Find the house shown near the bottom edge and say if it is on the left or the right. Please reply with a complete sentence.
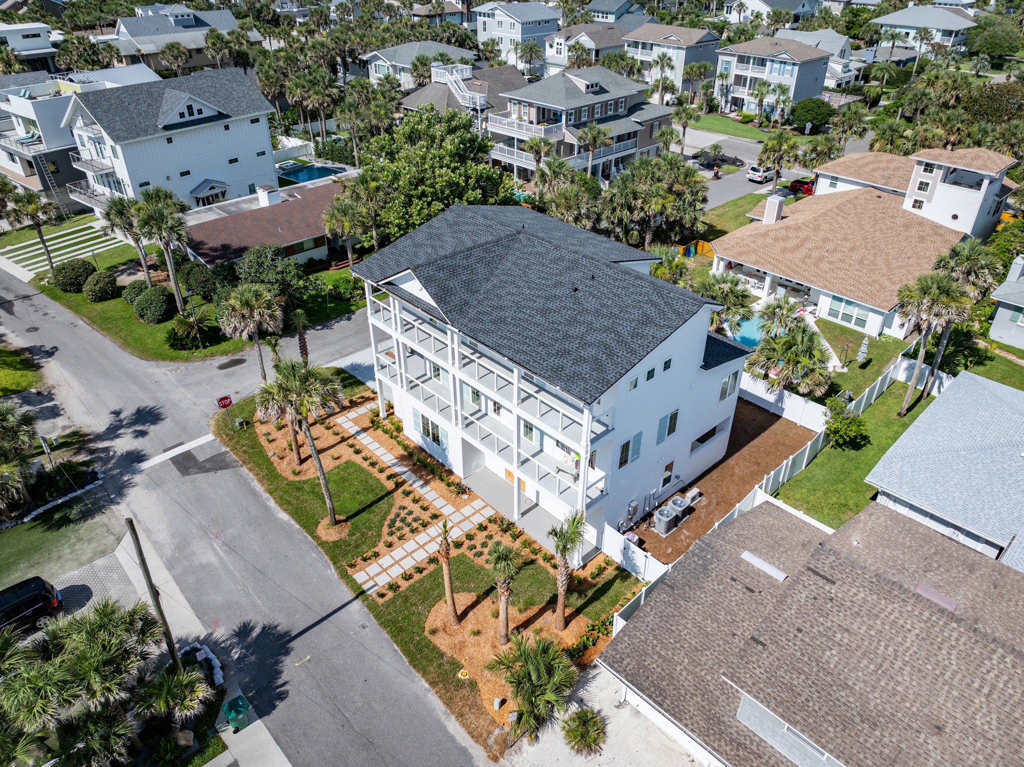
The house shown near the bottom edge is on the right side of the image.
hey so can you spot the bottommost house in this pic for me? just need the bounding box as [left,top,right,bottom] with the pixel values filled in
[588,482,1024,767]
